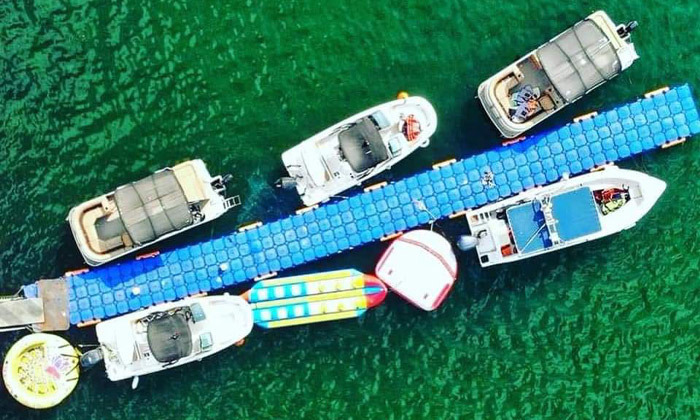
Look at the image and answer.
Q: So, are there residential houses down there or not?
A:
No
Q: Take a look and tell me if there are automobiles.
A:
No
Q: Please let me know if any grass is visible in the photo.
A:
No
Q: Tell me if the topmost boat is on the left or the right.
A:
right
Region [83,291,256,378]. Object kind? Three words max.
boat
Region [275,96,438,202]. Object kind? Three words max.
boat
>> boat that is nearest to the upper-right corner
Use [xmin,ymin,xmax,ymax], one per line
[479,17,641,135]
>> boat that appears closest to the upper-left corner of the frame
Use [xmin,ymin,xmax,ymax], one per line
[71,157,239,262]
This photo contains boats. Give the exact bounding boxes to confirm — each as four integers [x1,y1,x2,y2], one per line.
[479,17,641,135]
[454,166,667,267]
[275,96,438,202]
[71,157,239,262]
[83,291,256,378]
